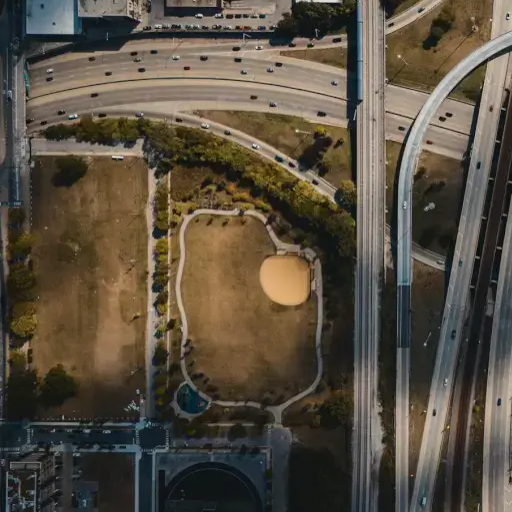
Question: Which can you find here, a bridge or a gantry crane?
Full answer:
It is a bridge that can be seen here.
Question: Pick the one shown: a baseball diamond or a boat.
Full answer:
The image shows a baseball diamond.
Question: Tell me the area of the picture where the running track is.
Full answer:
The running track appears toward the bottom of the photo.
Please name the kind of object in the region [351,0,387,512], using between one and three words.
bridge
